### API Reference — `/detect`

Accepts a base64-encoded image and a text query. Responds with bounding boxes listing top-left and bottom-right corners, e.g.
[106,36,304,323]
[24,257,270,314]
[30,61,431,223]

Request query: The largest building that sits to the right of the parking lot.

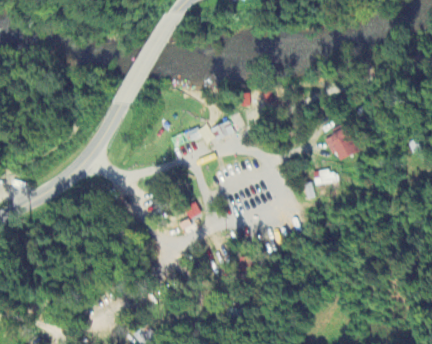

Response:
[325,126,358,161]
